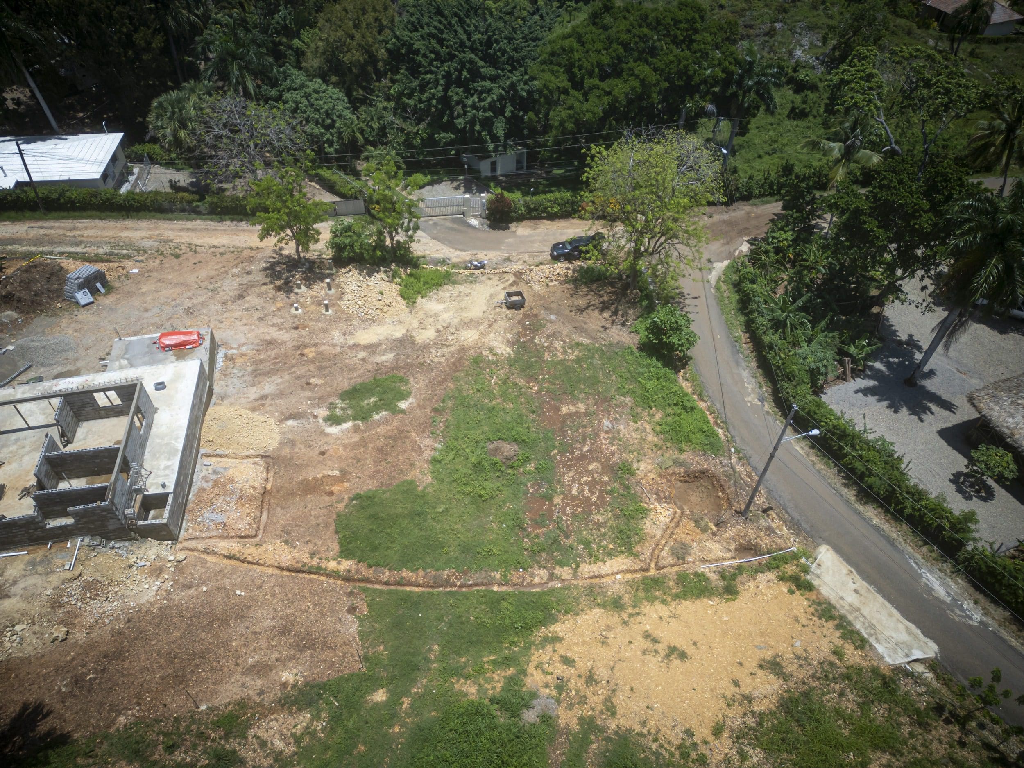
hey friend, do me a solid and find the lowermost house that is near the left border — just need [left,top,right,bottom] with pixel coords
[0,321,218,556]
